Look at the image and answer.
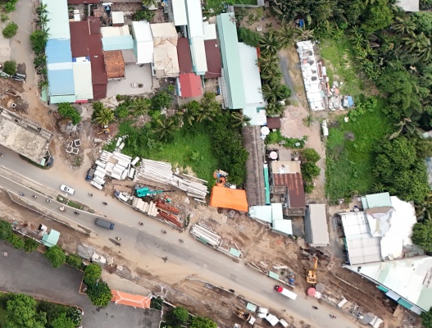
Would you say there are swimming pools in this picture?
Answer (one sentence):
No, no swimming pool is visible in the scene.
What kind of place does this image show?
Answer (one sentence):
The area seen from above is a residential area.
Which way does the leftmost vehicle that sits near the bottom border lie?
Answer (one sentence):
The leftmost vehicle that sits near the bottom border runs at an angle in the image.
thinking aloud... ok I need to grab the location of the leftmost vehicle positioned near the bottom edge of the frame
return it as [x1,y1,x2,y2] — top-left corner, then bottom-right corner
[234,304,256,324]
